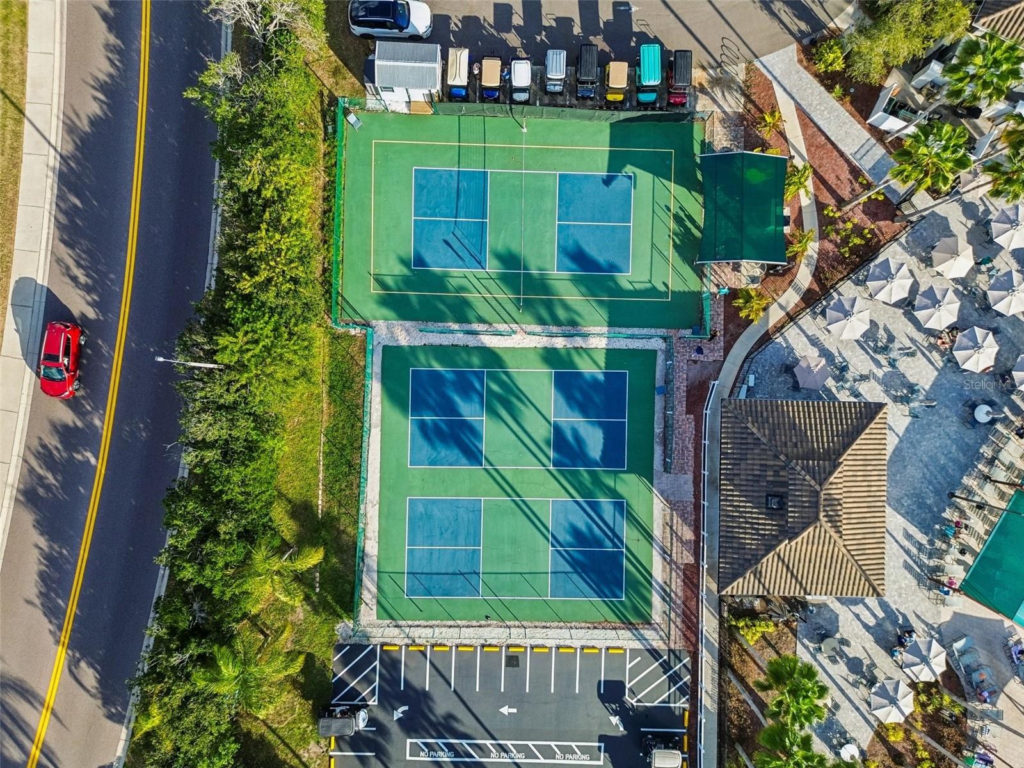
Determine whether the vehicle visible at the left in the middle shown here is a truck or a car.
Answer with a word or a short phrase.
car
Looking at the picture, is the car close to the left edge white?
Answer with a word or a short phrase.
No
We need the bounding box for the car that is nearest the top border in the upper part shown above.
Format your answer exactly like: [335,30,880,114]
[349,0,429,40]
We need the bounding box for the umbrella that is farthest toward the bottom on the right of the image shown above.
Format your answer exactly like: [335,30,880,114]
[866,678,911,721]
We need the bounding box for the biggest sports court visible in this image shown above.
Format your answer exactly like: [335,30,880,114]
[339,108,703,327]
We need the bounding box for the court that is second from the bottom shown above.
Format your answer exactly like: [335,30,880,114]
[379,345,658,485]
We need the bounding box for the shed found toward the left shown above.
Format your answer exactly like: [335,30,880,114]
[366,37,443,117]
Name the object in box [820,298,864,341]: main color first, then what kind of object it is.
white umbrella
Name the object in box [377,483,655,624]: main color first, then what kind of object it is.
green sports court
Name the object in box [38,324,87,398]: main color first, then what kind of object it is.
red car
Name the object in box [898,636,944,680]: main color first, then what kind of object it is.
white umbrella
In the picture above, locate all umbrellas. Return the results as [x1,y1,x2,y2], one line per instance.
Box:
[791,356,829,391]
[898,636,944,680]
[945,326,995,373]
[909,285,957,333]
[866,678,911,721]
[979,206,1024,251]
[864,259,911,307]
[977,269,1024,314]
[992,348,1024,391]
[820,298,864,341]
[940,165,982,199]
[925,235,971,279]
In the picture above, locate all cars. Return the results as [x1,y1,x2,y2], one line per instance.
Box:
[38,324,87,398]
[349,0,429,40]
